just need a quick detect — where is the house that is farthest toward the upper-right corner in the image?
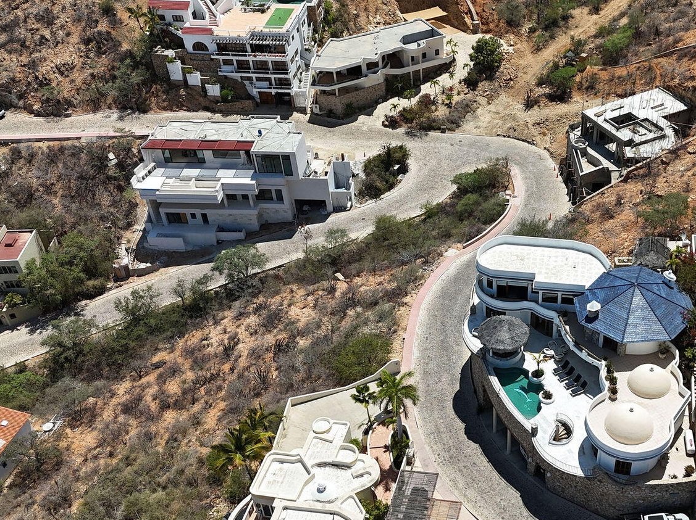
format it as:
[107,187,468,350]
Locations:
[556,85,689,212]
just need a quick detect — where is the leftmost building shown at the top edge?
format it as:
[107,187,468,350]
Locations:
[149,0,322,115]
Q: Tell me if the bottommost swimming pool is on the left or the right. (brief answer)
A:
right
